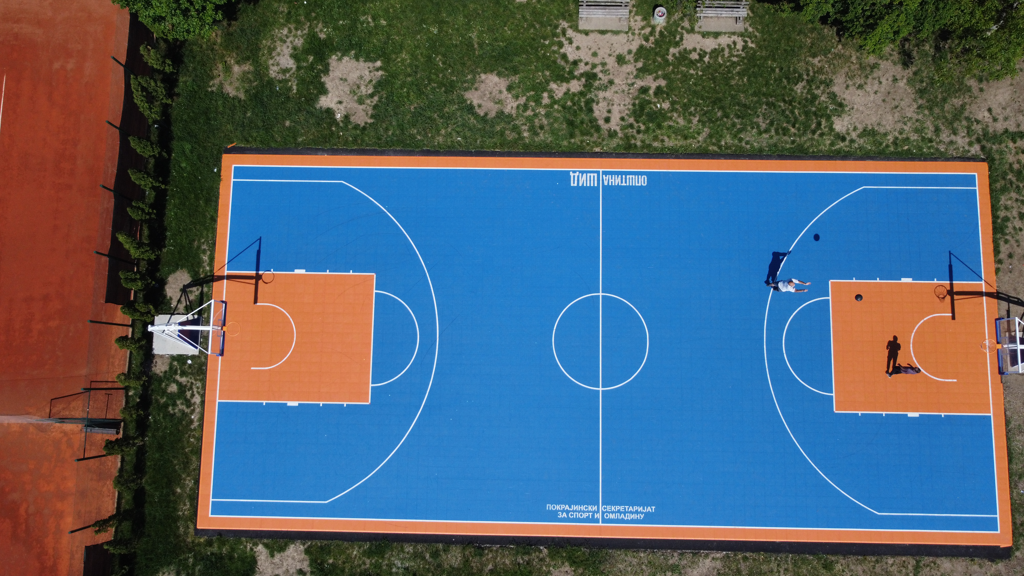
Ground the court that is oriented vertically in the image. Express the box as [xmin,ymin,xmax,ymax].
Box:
[0,0,132,576]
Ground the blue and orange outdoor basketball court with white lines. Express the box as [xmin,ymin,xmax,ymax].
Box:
[195,146,1012,559]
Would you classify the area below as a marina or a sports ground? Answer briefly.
sports ground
